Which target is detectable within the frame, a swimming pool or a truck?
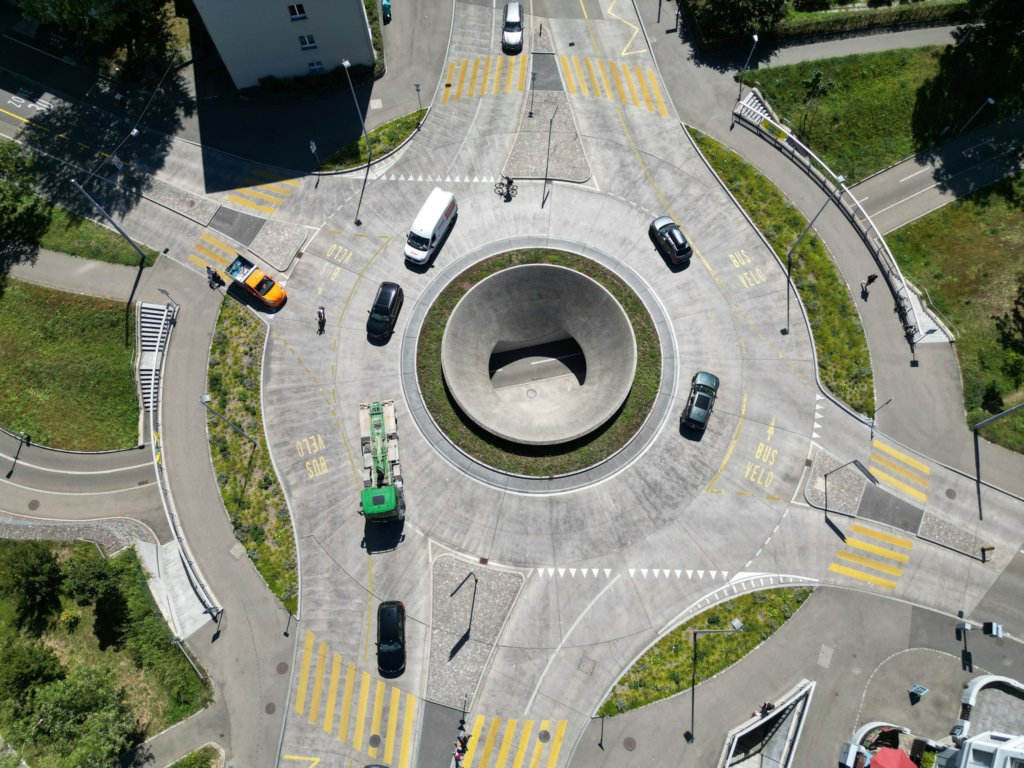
truck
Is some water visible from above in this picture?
No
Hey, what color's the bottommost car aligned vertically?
black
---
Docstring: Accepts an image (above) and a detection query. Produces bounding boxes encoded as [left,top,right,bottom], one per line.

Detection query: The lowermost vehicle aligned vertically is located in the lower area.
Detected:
[374,601,407,675]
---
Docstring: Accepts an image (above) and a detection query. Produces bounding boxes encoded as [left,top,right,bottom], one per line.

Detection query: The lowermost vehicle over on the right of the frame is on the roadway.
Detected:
[682,373,718,429]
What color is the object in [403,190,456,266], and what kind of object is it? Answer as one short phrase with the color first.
white van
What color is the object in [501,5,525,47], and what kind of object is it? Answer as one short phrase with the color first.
white car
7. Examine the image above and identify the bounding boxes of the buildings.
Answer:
[921,728,1024,768]
[197,0,375,88]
